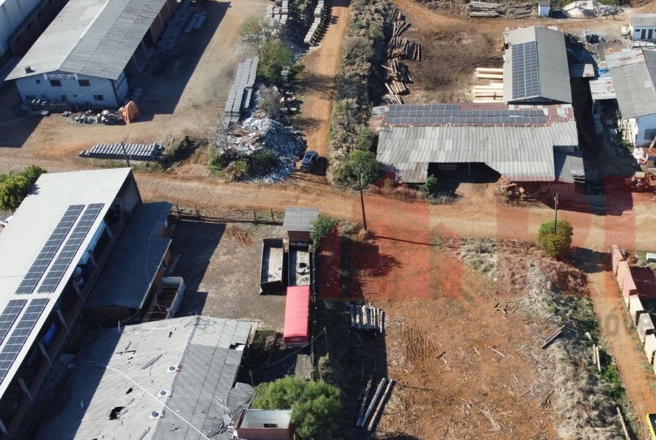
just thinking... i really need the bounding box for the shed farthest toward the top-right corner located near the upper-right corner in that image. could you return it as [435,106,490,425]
[631,17,656,37]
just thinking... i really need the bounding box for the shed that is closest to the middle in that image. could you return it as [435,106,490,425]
[282,209,318,246]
